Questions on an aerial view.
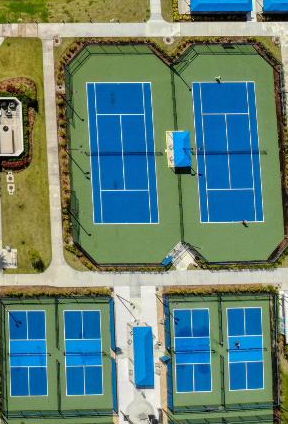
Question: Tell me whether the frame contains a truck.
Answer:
No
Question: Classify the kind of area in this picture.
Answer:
sports ground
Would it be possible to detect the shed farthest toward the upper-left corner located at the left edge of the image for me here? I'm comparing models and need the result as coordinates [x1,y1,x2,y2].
[1,128,16,153]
